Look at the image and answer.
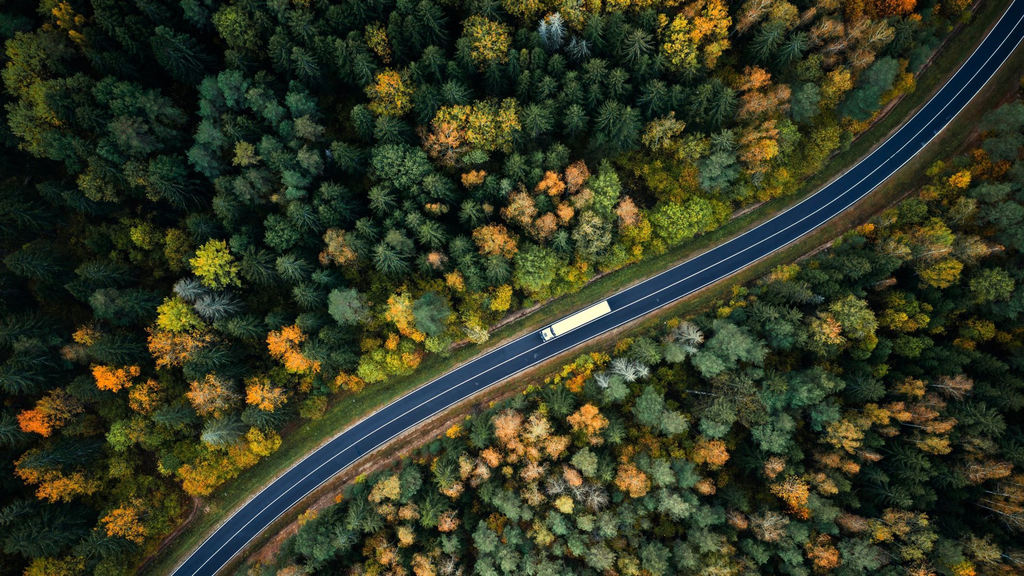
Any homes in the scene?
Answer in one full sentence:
No, I find no home anywhere in the image.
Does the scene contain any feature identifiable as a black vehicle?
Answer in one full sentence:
No, this view has no black vehicle in it.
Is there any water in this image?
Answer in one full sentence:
No, no water is visible.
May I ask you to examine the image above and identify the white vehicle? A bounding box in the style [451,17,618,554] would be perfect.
[541,301,611,341]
